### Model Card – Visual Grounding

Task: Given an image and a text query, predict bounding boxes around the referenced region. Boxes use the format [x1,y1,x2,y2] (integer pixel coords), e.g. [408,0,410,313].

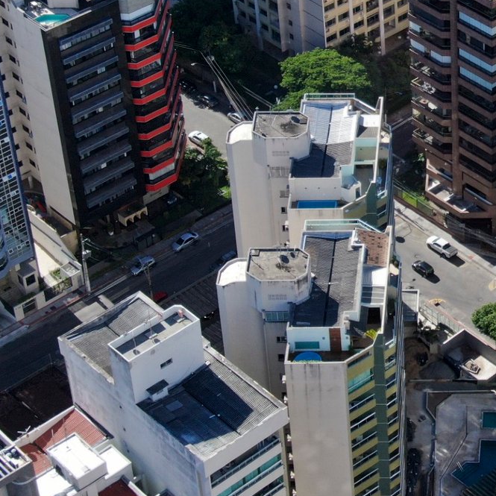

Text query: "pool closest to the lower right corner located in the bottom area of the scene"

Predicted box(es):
[298,345,320,361]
